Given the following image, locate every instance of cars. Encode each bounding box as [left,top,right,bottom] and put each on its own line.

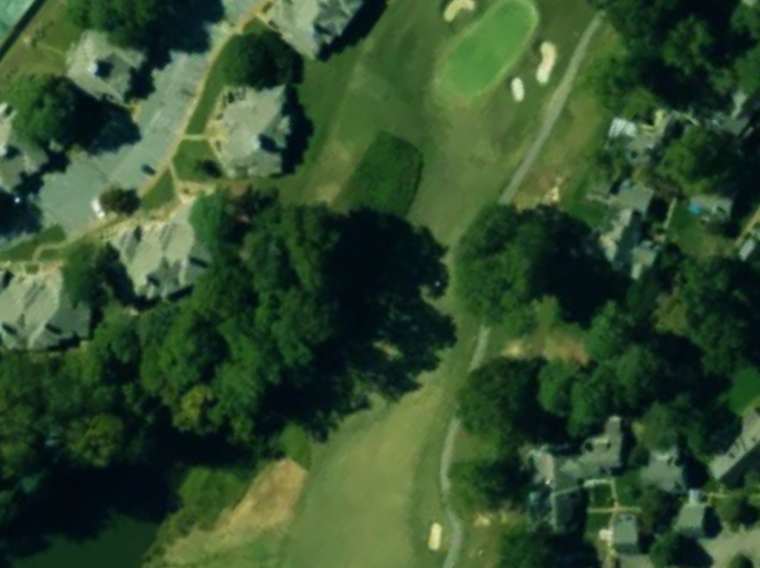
[140,163,157,176]
[92,199,107,216]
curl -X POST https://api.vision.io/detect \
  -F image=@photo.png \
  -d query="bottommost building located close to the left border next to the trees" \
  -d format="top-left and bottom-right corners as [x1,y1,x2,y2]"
[0,262,99,356]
